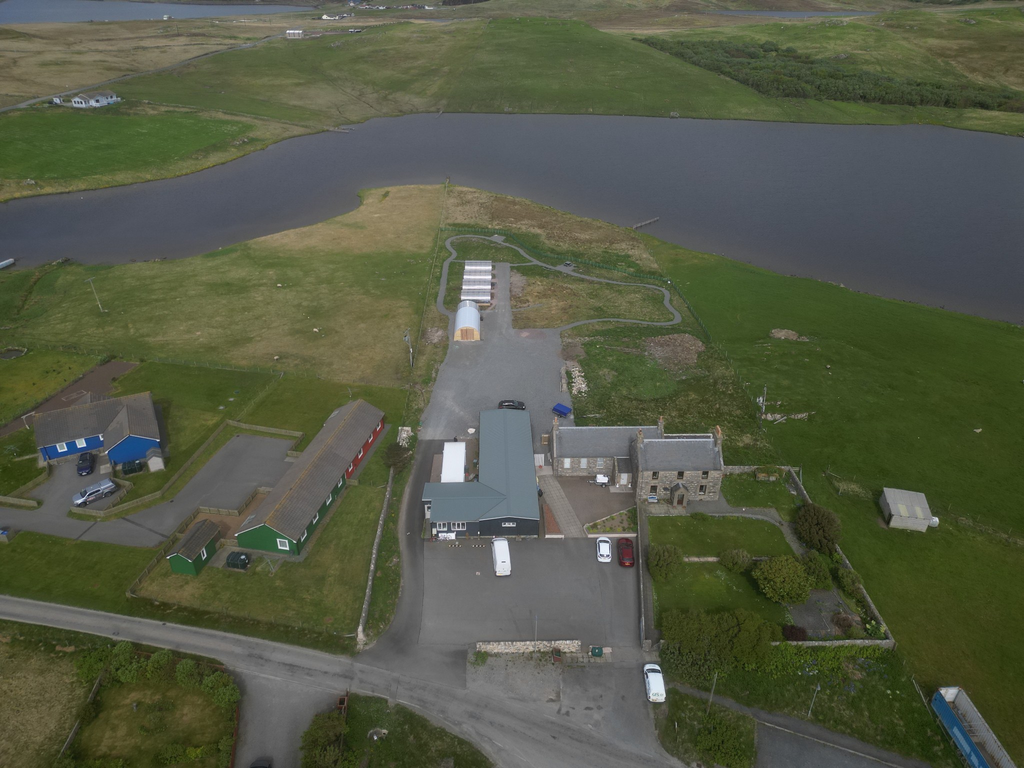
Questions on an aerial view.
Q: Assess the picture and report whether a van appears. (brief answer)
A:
Yes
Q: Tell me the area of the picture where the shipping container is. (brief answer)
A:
bottom right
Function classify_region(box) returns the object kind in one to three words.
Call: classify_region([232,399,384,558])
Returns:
house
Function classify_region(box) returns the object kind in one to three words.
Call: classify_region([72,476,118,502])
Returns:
truck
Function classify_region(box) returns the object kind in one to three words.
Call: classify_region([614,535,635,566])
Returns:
car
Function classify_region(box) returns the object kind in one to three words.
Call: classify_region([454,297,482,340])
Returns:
greenhouse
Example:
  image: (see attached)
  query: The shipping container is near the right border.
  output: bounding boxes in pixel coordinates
[930,686,1015,768]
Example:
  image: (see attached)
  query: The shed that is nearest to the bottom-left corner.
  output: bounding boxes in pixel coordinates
[167,519,224,575]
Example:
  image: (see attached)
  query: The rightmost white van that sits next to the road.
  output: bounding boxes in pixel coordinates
[637,660,668,702]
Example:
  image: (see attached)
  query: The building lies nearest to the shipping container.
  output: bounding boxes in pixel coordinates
[882,486,931,532]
